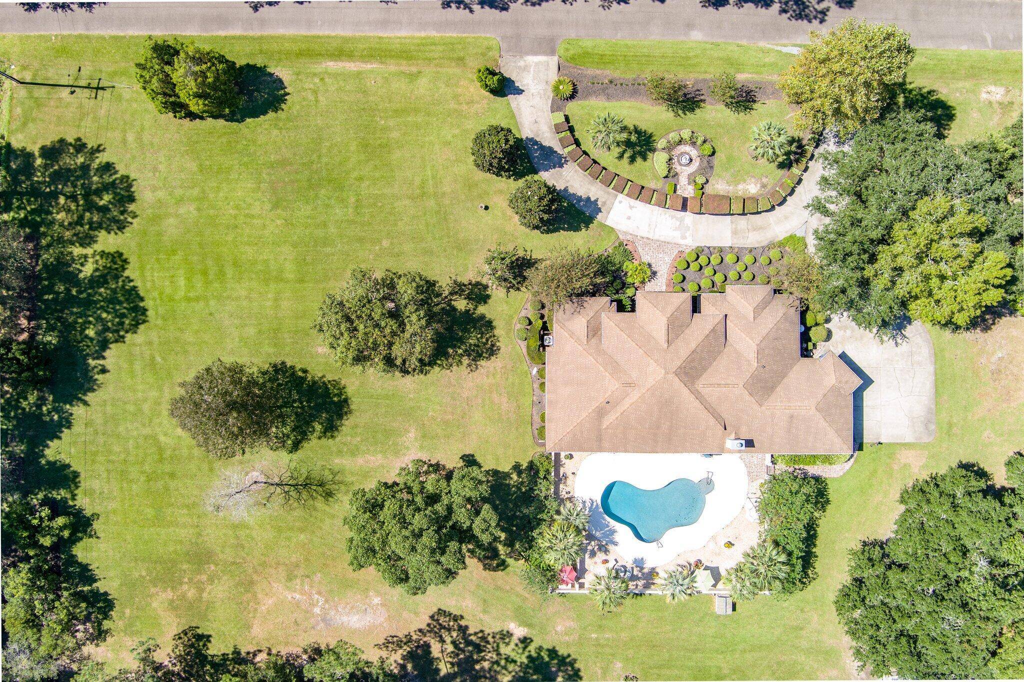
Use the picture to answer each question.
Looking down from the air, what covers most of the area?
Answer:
grass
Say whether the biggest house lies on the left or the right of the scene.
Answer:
right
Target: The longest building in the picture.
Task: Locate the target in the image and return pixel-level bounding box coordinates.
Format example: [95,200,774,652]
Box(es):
[545,285,864,454]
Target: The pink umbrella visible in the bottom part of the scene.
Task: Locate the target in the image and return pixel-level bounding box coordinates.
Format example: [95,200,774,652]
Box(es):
[556,565,577,586]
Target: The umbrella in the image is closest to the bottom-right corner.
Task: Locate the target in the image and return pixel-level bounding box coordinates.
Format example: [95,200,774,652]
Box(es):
[690,568,716,594]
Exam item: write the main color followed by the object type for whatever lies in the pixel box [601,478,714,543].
blue swimming pool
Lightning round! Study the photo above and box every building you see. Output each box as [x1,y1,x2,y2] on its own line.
[545,285,864,454]
[713,593,732,616]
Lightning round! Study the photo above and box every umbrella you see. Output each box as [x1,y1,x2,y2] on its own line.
[586,565,606,588]
[556,565,577,586]
[690,568,716,594]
